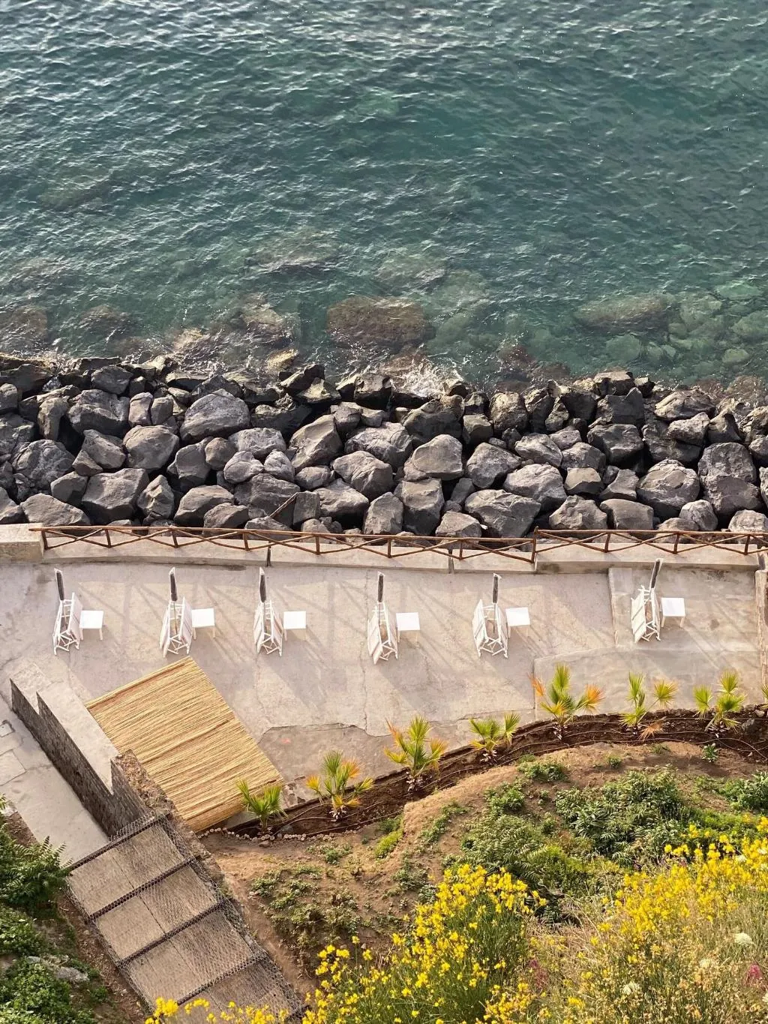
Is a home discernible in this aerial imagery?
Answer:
No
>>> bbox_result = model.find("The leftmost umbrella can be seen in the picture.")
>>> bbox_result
[50,565,69,629]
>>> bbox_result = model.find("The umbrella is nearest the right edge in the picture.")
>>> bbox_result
[644,557,663,624]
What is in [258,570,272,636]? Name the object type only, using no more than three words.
umbrella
